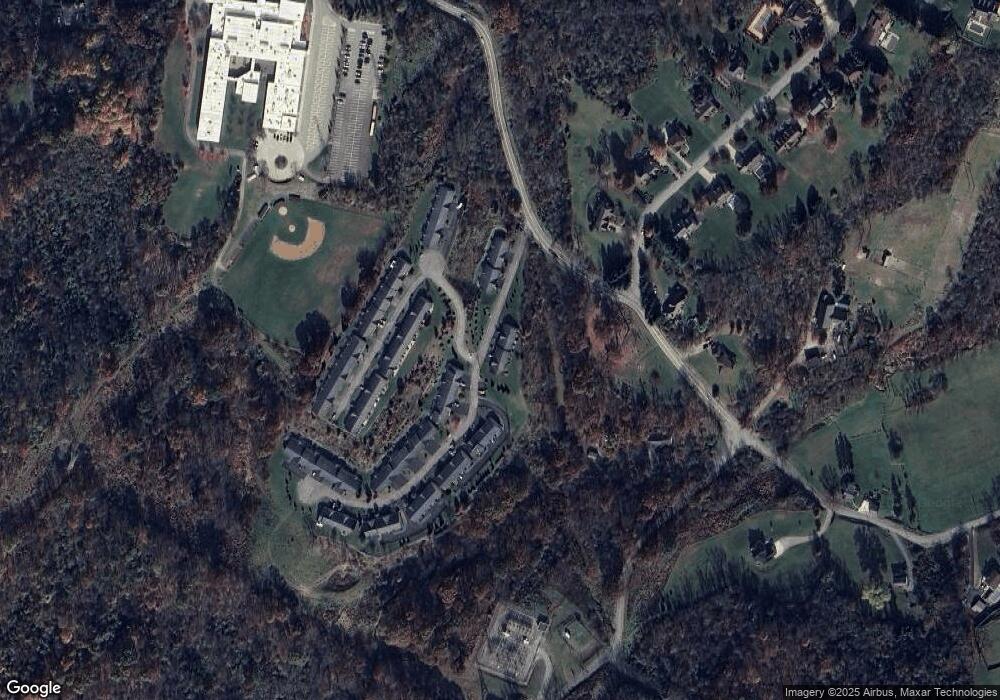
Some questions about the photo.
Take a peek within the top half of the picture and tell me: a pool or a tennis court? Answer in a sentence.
The feature located within the top half of the picture is a pool.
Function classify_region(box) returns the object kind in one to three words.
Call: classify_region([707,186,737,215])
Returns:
house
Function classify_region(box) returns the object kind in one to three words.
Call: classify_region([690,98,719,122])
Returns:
house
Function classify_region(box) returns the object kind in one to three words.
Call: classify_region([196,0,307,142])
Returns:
building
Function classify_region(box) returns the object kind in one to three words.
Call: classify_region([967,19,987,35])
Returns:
swimming pool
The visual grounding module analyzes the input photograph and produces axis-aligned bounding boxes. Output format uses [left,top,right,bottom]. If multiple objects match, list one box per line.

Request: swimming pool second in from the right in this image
[881,33,899,53]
